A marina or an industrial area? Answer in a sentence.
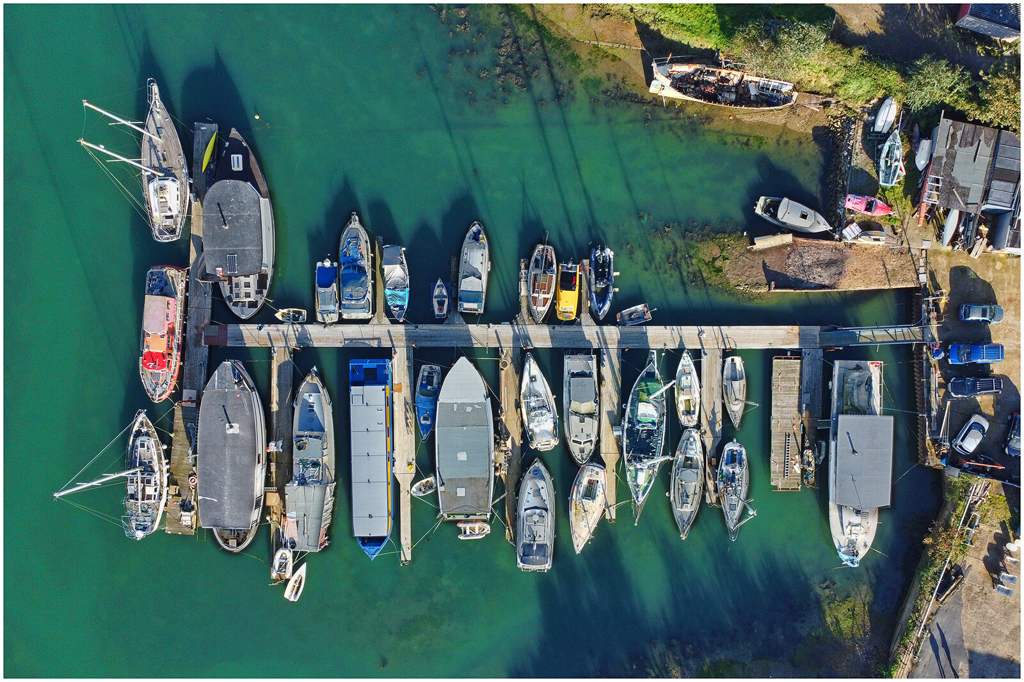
The area seen from above is a marina.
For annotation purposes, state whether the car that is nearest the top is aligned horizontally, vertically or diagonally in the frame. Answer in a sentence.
In this picture, the car that is nearest the top is oriented horizontally.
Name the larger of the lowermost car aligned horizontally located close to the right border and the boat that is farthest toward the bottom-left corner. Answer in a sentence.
The boat takes up more space than the car.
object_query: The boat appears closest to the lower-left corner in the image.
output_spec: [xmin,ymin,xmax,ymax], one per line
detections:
[51,407,174,543]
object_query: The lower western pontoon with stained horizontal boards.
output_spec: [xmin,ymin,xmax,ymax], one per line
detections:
[166,407,200,533]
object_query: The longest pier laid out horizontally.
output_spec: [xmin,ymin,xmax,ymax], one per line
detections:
[227,325,801,348]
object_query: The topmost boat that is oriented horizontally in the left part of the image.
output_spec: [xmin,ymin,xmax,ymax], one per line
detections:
[274,309,307,322]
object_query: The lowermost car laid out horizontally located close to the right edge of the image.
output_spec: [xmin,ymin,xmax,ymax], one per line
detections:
[945,374,1003,399]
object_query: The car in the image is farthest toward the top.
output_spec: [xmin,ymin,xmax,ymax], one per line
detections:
[955,301,1004,325]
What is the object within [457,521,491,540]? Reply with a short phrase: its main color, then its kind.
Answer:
white boat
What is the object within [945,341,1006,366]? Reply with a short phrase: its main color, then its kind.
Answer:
blue truck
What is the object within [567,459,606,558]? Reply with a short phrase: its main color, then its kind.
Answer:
white boat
